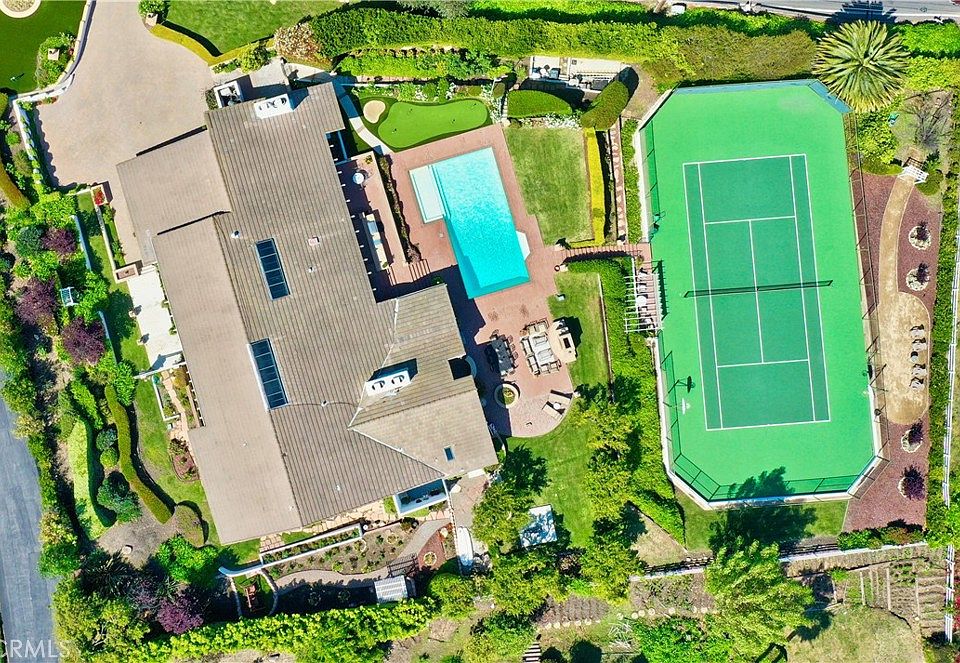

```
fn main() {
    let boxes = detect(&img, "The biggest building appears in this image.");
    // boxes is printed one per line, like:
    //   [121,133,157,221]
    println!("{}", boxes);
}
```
[115,82,497,545]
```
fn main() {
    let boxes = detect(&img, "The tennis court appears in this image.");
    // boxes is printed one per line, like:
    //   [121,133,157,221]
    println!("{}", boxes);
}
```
[641,88,875,501]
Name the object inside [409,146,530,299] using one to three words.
swimming pool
